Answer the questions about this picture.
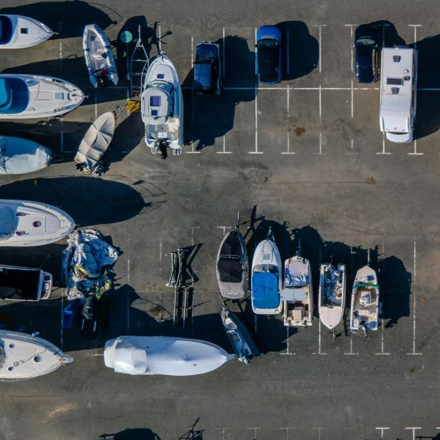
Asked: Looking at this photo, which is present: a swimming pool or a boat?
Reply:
boat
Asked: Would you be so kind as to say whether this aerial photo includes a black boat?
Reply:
Yes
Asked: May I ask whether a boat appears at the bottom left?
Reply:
Yes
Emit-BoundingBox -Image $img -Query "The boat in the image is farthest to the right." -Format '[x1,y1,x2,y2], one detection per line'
[352,266,382,344]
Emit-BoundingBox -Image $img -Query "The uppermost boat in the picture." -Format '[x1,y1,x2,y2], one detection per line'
[0,14,57,51]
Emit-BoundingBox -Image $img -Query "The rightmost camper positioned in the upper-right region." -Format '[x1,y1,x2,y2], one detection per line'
[380,45,417,143]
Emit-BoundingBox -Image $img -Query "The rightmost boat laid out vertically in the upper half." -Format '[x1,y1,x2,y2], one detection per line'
[141,49,184,159]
